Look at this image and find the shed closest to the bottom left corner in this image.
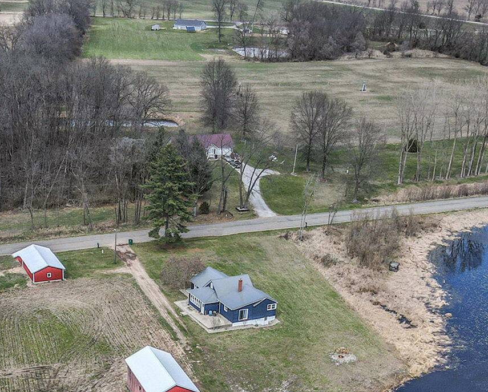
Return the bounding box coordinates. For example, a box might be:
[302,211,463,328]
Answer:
[12,244,65,283]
